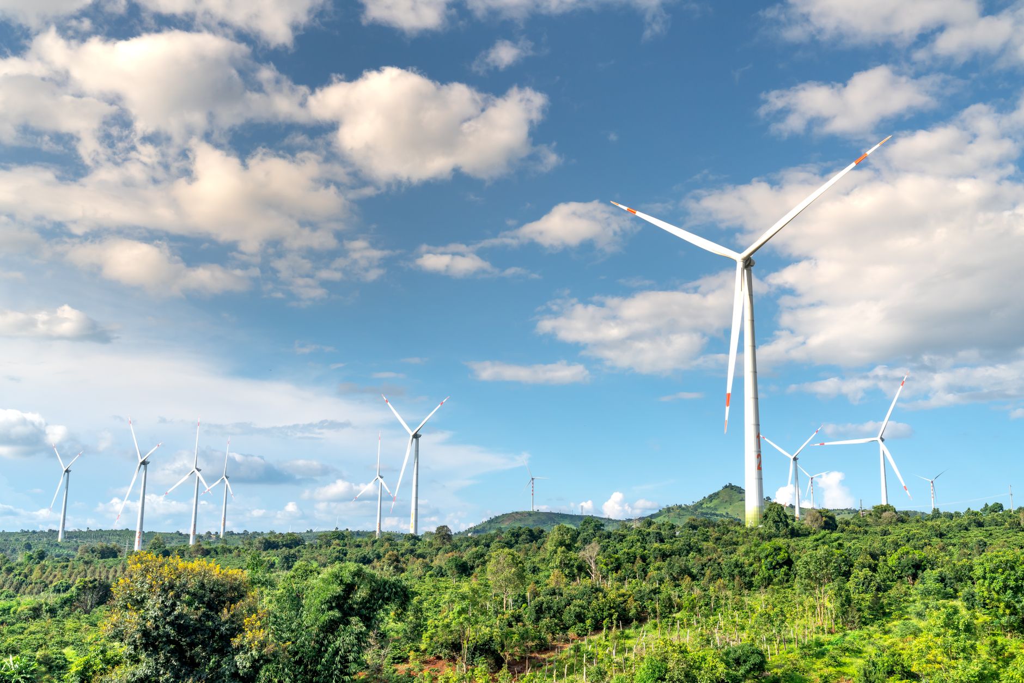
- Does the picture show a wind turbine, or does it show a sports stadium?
wind turbine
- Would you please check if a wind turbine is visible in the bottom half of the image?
Yes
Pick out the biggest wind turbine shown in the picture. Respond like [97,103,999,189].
[611,136,890,523]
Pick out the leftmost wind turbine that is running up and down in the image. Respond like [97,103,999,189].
[49,447,83,545]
